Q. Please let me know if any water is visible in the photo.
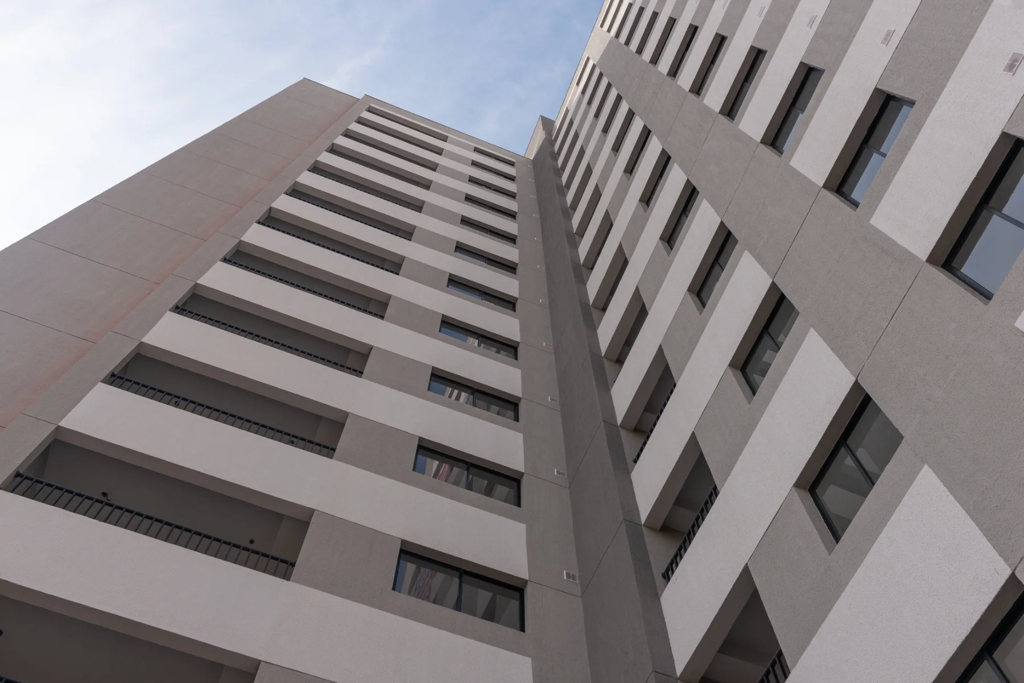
No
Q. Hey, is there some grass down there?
No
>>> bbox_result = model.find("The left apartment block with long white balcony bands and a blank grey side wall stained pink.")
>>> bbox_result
[0,77,591,683]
